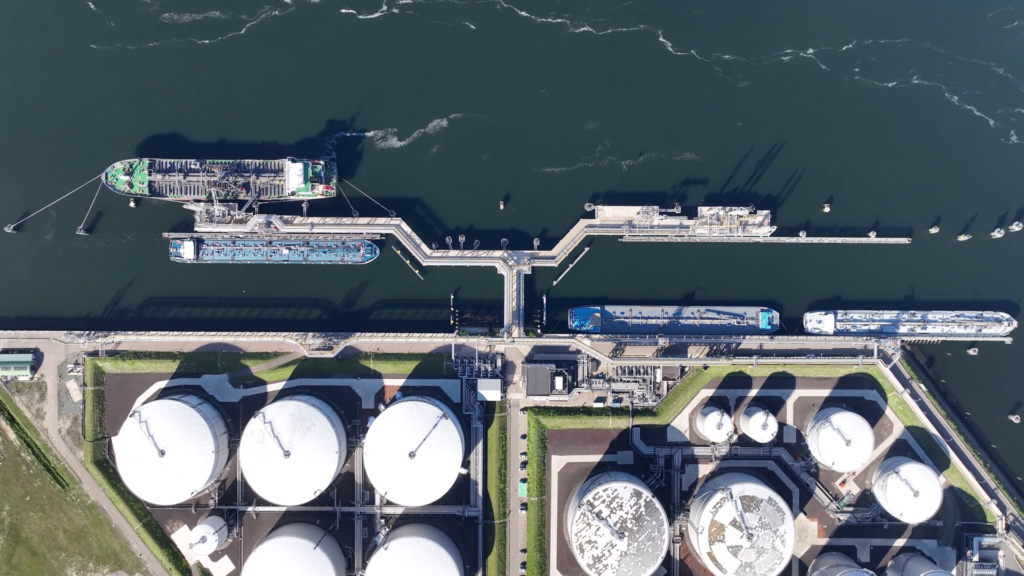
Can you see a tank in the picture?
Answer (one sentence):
Yes, there's a tank here.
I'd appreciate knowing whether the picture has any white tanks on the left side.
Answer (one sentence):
Yes, a white tank is visible on the left side.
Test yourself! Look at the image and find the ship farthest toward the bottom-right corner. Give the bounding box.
[802,310,1018,336]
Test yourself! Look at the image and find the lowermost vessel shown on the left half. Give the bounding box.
[170,239,380,264]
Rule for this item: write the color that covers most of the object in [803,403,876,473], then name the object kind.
white storage tank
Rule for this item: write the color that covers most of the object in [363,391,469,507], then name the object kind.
white storage tank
